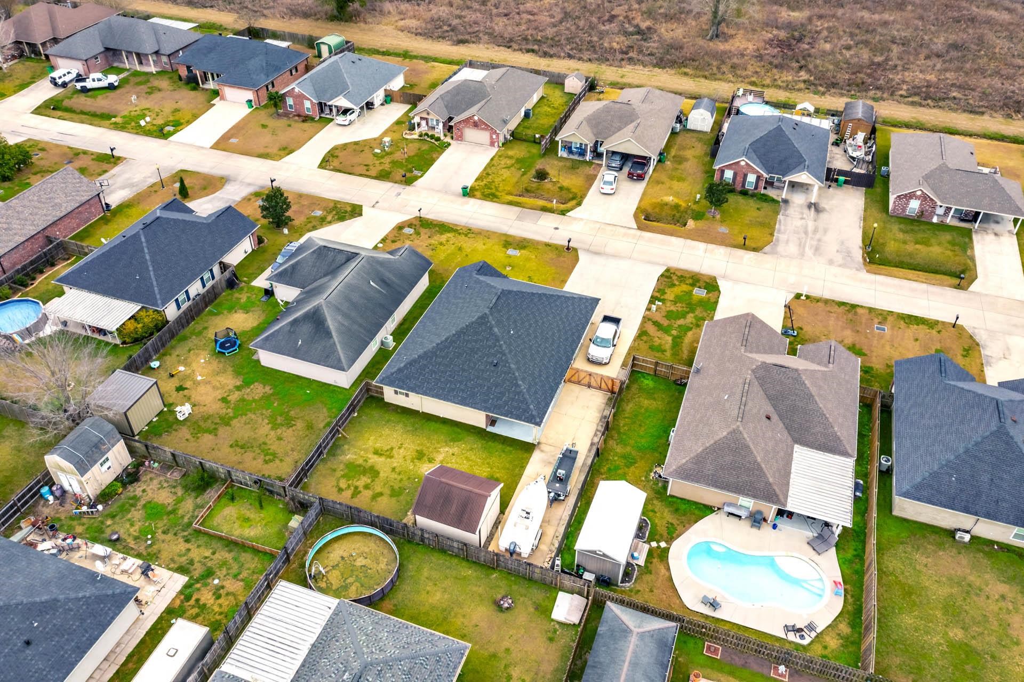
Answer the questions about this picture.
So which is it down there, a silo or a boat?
boat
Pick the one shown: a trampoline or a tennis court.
trampoline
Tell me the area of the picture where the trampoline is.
left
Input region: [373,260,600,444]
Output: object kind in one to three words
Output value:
house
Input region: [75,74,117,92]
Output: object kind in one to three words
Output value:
vehicle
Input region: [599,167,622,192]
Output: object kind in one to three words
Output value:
car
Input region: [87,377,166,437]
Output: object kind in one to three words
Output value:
shed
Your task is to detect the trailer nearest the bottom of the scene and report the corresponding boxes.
[132,618,222,682]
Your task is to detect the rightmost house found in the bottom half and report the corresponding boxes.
[887,354,1024,553]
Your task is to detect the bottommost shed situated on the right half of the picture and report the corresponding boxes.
[583,601,681,682]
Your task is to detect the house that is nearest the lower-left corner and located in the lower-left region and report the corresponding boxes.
[0,538,140,682]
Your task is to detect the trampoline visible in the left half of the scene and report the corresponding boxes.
[208,324,240,355]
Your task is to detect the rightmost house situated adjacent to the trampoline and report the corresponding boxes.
[250,236,438,392]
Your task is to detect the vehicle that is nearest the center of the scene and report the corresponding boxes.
[587,306,625,364]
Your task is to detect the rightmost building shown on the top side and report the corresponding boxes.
[886,131,1024,239]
